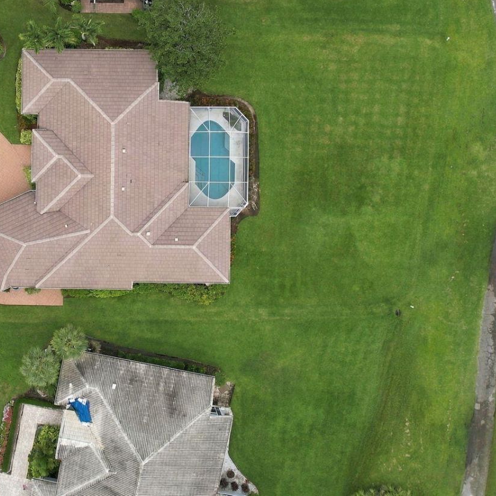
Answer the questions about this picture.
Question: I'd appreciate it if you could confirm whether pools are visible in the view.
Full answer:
Yes, there is a pool in the image.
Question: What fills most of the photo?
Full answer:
Most of the picture is covered by grass.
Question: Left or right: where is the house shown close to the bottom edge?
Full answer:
The house shown close to the bottom edge sits on the left side.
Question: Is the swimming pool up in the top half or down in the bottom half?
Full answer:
It is in the top half that the swimming pool appears.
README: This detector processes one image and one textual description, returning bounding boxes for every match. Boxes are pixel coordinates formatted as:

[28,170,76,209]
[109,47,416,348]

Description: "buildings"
[0,48,231,293]
[27,350,233,496]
